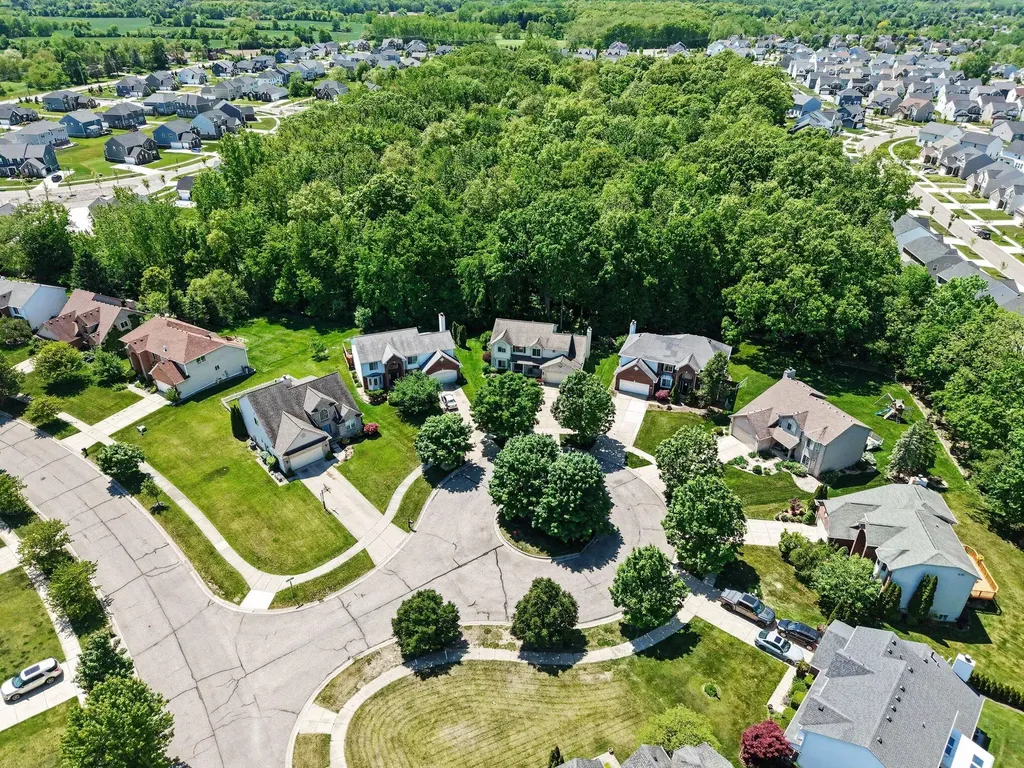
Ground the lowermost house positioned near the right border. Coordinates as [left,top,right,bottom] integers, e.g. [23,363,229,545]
[762,614,987,768]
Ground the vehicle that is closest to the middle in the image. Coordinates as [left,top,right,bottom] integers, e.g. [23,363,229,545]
[440,388,460,408]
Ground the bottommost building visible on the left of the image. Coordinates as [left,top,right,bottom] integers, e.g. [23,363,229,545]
[238,366,371,474]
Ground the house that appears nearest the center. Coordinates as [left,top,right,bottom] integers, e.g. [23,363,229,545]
[486,315,590,385]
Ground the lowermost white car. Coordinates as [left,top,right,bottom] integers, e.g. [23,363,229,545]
[0,658,59,700]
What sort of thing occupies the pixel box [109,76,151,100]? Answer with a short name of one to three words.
house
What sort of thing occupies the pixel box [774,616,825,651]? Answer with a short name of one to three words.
car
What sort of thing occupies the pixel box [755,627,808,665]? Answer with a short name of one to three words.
car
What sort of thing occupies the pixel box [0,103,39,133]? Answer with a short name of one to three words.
house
